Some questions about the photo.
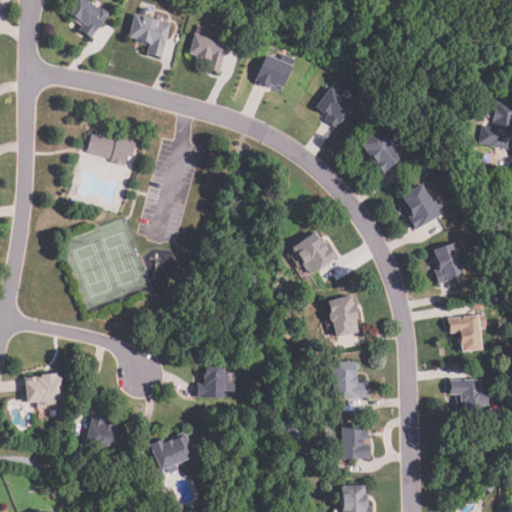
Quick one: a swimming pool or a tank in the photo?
swimming pool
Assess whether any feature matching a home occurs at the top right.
Yes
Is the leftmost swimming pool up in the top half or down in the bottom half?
bottom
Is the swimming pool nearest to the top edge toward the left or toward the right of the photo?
left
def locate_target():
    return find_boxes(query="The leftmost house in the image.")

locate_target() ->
[25,374,62,410]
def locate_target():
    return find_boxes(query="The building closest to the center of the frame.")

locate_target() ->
[292,231,338,272]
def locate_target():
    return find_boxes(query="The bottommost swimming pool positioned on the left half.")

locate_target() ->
[164,469,196,507]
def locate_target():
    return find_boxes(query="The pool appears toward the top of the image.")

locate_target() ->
[70,150,134,212]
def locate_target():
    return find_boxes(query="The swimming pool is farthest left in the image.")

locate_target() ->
[7,398,34,430]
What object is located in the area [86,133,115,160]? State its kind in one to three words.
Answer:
building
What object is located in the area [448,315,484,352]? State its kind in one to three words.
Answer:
house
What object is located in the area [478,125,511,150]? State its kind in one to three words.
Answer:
house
